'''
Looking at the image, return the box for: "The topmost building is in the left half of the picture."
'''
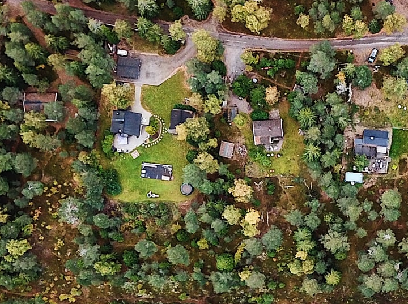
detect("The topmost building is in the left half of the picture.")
[117,56,142,80]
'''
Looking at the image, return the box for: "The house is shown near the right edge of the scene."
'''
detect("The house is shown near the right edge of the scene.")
[356,129,390,158]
